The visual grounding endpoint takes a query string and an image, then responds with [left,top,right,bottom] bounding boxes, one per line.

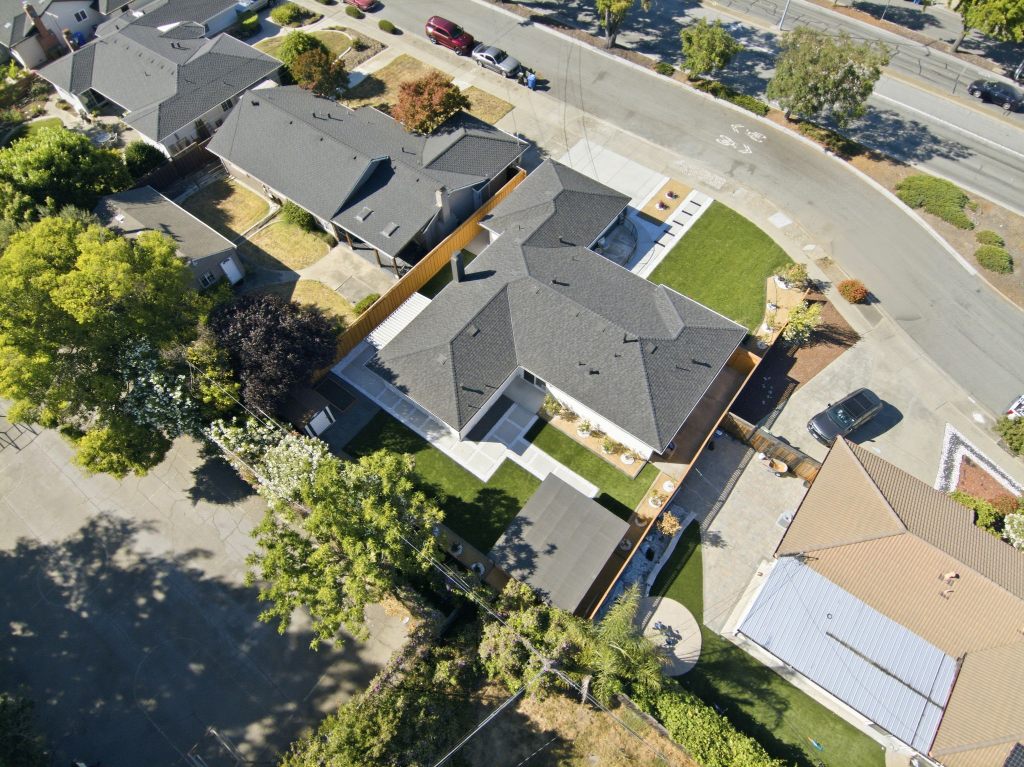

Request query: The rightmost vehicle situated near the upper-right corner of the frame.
[965,75,1024,111]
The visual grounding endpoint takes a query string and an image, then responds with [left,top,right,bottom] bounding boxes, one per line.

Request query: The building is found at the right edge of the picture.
[770,435,1024,767]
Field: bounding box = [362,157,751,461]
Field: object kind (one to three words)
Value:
house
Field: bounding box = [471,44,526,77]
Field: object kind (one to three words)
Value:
car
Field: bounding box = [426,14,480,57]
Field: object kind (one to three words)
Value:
car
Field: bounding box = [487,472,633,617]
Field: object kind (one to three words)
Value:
building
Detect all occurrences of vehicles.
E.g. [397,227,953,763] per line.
[965,75,1024,111]
[337,0,379,13]
[426,14,480,57]
[801,388,889,443]
[1001,400,1024,421]
[471,44,526,77]
[234,0,280,15]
